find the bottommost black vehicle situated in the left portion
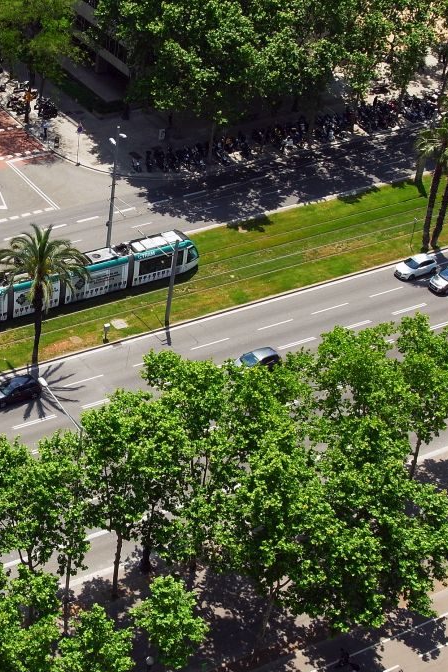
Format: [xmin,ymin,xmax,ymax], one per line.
[0,370,43,406]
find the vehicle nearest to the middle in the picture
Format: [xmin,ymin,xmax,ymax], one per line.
[230,345,289,376]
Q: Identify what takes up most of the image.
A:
trees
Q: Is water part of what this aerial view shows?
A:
No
